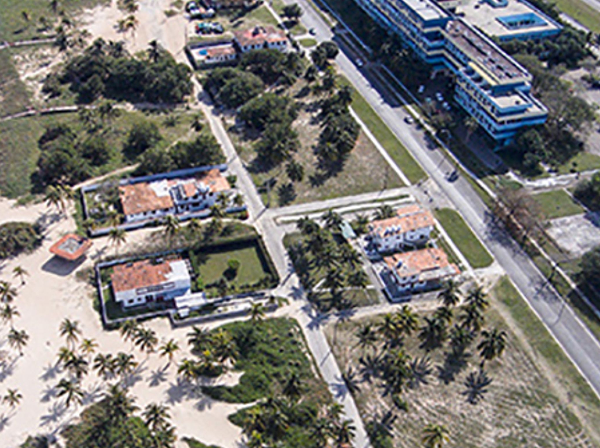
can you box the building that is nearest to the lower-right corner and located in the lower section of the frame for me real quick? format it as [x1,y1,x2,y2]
[379,251,467,297]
